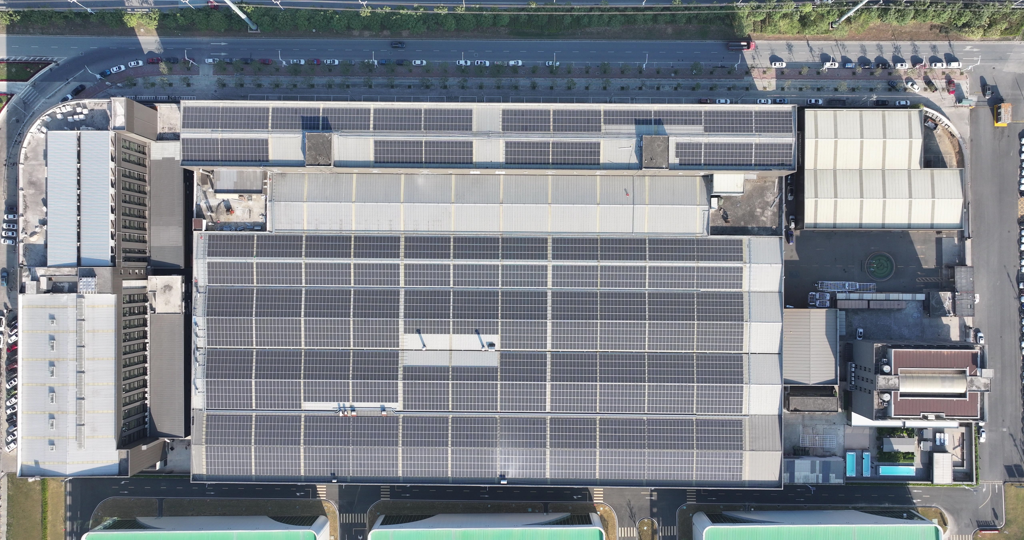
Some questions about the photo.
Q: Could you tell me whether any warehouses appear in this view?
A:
Yes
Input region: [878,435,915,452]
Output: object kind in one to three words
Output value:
building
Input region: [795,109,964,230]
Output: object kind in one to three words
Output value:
warehouse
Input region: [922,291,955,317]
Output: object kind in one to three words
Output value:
building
